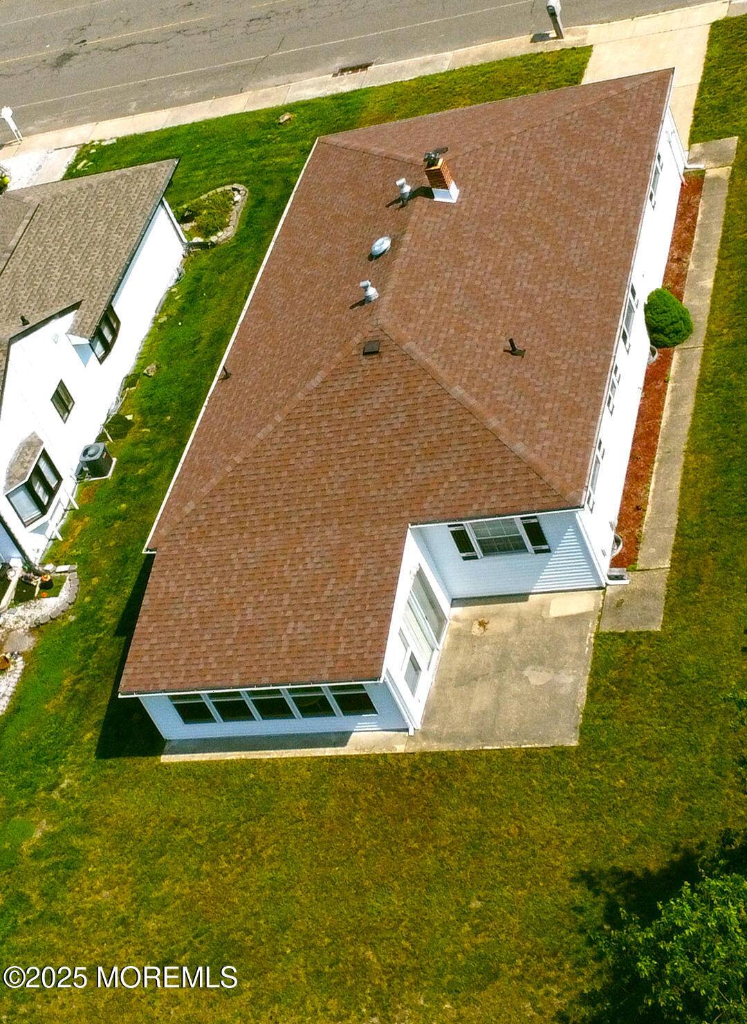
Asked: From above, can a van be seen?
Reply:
No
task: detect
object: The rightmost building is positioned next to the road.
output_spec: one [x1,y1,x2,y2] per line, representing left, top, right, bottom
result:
[118,69,709,741]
